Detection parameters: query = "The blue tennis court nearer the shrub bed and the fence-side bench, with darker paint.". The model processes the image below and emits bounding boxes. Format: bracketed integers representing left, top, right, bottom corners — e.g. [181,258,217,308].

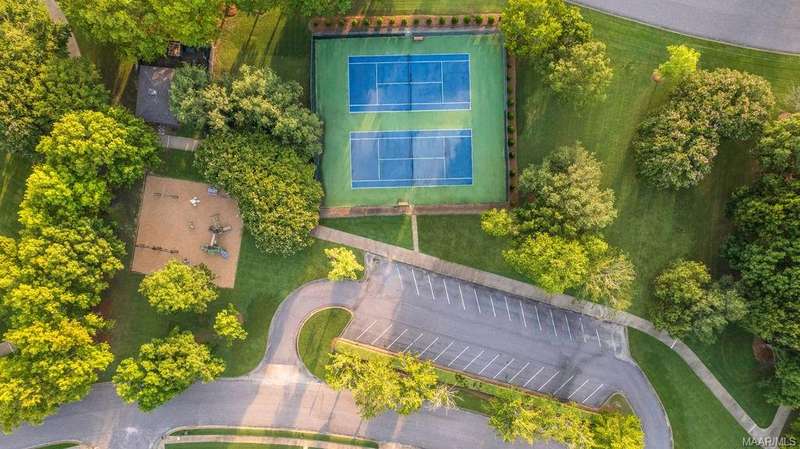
[316,36,505,123]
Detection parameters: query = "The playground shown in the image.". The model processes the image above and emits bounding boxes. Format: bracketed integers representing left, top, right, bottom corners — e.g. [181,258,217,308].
[131,176,243,289]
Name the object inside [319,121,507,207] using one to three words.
tennis court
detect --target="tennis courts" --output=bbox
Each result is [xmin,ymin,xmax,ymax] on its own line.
[319,121,507,207]
[316,36,505,123]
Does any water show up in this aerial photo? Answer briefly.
No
